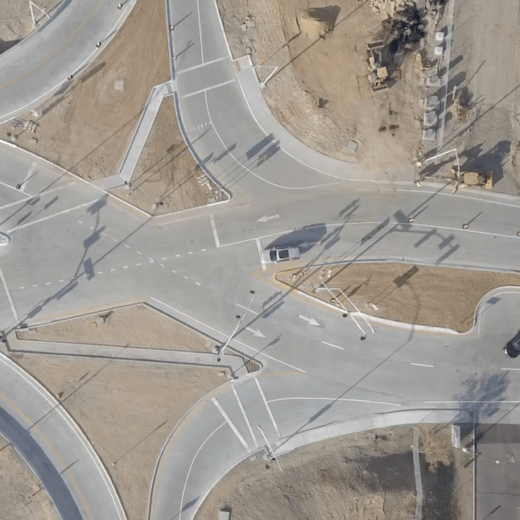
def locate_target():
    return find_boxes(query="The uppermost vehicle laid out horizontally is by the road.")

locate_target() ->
[419,165,499,194]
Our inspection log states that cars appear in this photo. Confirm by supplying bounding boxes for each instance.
[259,246,299,265]
[501,331,520,359]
